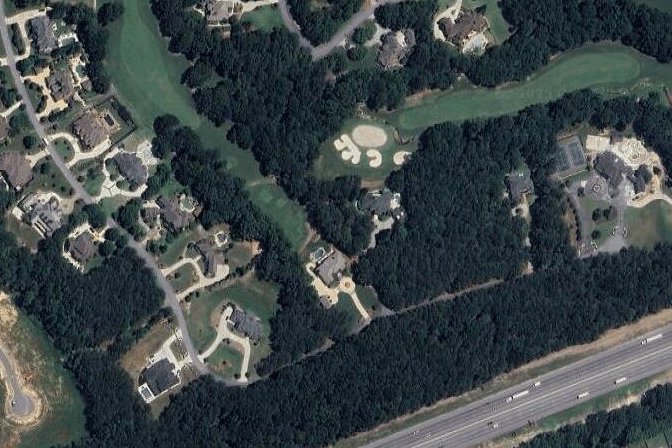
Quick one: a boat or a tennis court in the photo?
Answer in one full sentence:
Of the two, only a tennis court appears.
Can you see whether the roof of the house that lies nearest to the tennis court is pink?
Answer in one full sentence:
No, from above the roof of the house that lies nearest to the tennis court looks gray.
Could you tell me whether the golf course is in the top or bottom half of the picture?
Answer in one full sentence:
The golf course is in the top half of the image.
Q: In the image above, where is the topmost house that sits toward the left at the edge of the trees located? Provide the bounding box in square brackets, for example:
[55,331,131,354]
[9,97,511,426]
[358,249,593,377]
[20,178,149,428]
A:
[206,0,233,22]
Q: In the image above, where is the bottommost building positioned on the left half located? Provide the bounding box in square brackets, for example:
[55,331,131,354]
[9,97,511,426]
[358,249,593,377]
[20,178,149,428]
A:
[143,358,178,393]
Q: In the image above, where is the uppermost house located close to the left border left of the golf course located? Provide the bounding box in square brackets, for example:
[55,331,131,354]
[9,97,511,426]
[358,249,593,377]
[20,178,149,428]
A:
[31,15,58,52]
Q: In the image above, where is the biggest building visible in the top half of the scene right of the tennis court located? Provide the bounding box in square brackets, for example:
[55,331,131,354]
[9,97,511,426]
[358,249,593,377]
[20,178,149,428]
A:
[590,149,639,190]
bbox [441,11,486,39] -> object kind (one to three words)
house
